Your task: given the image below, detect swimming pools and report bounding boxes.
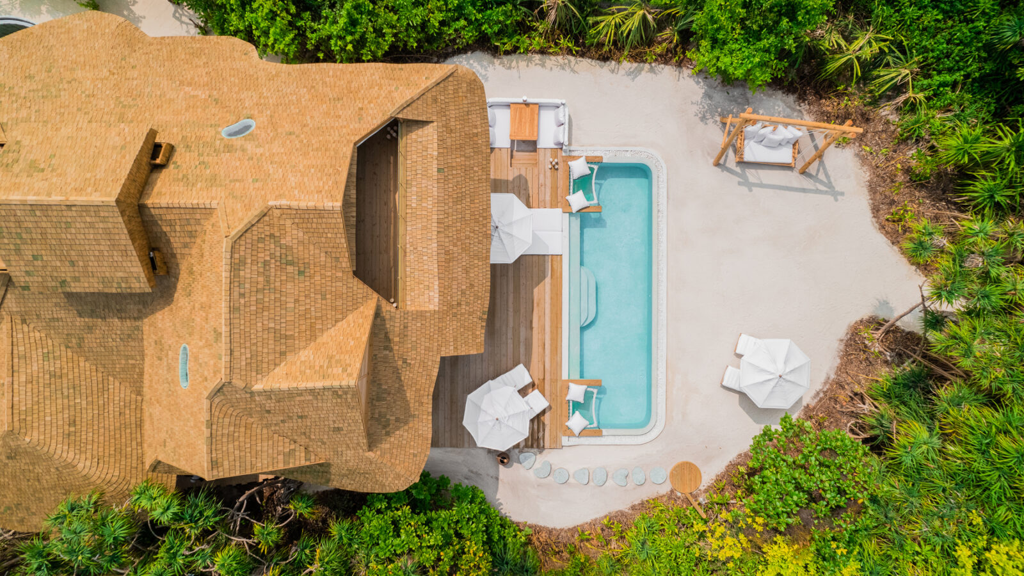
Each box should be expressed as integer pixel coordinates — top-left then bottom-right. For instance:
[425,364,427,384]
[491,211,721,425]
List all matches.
[561,148,667,445]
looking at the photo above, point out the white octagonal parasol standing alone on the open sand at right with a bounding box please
[741,341,808,407]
